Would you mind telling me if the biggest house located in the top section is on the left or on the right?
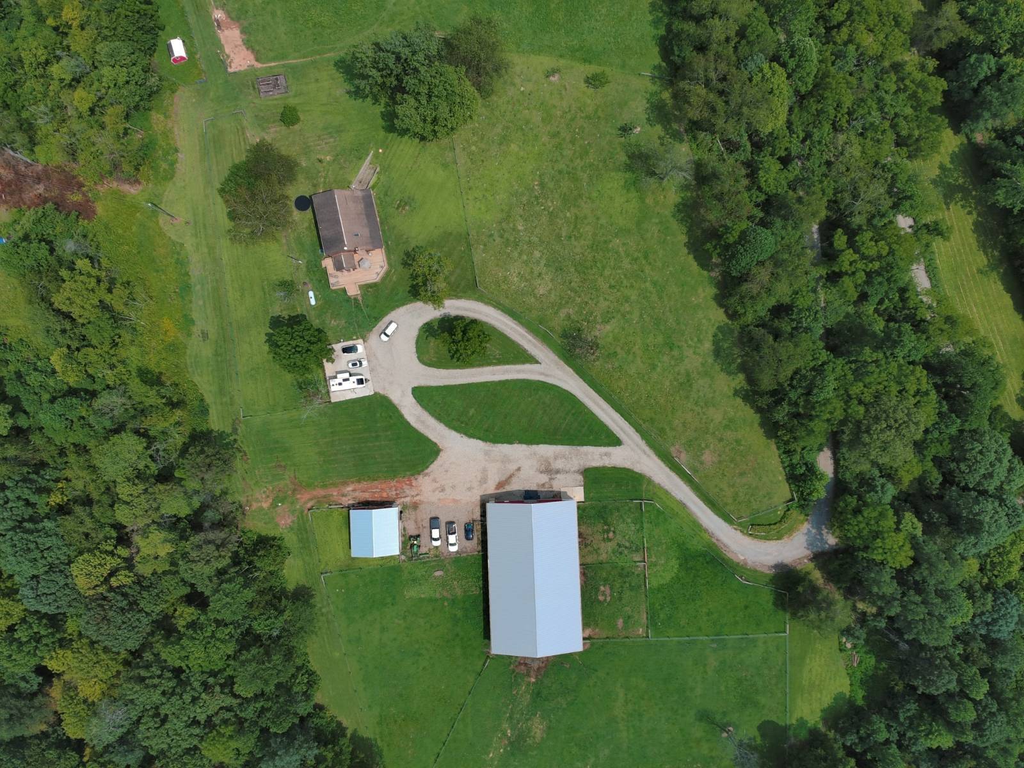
left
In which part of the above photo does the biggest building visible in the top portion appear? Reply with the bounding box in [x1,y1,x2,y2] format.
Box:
[312,186,384,272]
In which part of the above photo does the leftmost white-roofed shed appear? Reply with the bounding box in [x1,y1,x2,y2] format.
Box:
[166,39,187,64]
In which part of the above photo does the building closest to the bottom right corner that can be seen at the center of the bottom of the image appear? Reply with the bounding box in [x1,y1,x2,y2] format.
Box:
[486,499,582,657]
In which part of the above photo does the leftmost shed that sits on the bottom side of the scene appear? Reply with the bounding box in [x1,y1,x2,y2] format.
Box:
[350,507,400,557]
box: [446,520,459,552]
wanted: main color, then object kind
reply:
white vehicle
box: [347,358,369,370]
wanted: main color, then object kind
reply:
white vehicle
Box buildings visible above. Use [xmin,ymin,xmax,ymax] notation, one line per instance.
[486,499,582,657]
[166,39,187,64]
[312,186,384,272]
[350,507,400,557]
